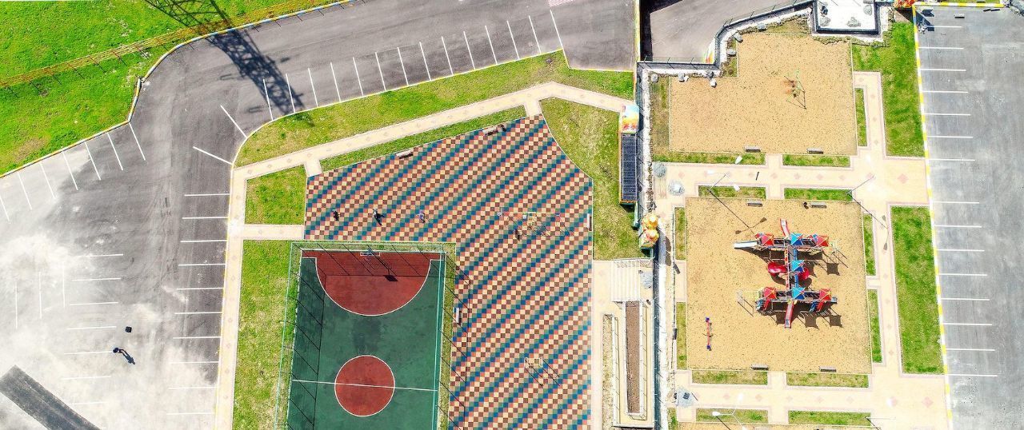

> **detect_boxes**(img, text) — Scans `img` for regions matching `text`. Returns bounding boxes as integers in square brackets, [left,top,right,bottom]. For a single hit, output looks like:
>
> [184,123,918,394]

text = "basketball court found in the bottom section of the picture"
[287,249,445,430]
